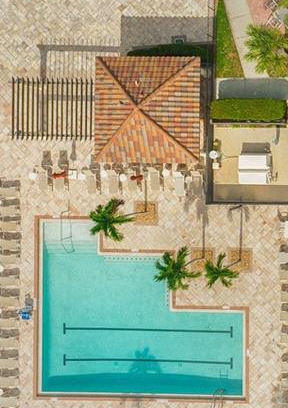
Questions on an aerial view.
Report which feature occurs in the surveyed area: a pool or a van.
pool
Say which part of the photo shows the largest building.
top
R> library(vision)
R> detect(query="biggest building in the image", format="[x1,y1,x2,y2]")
[92,56,211,165]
